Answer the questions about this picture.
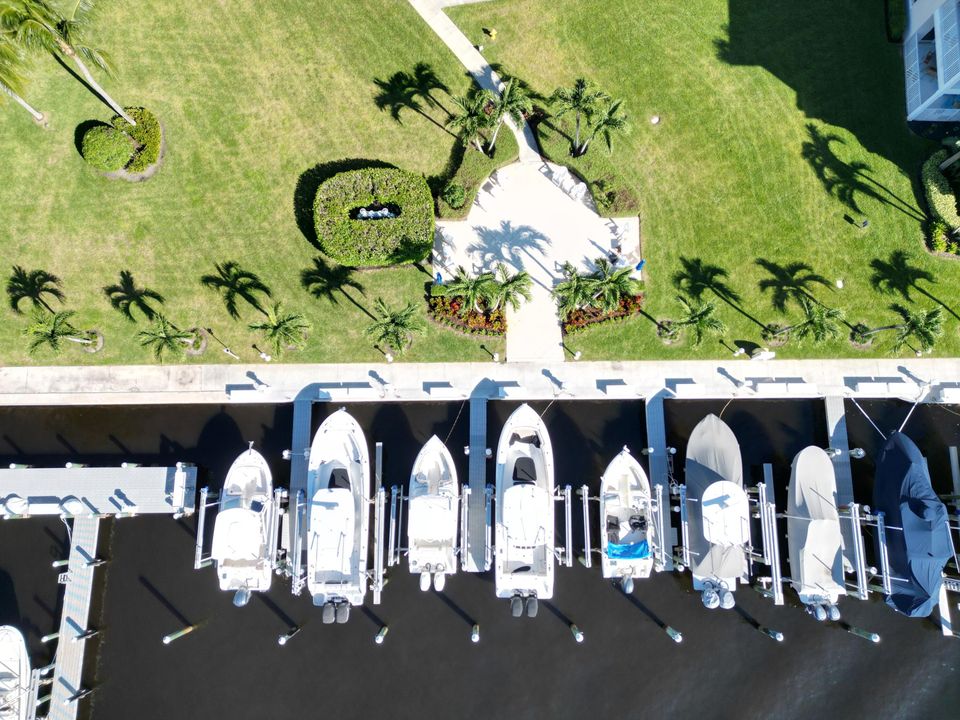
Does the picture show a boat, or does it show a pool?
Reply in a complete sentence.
Visible in the photo is a boat.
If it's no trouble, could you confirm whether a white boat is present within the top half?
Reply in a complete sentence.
No, I see no white boat within the top half.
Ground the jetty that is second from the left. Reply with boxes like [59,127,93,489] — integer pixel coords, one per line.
[287,400,312,578]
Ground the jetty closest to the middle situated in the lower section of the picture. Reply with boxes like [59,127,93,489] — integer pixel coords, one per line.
[468,398,488,573]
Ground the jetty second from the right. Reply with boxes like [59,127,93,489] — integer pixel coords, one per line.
[645,398,680,572]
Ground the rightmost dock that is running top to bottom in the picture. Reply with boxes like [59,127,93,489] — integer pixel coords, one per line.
[824,397,861,594]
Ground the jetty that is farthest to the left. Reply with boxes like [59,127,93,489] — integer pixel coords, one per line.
[0,467,198,516]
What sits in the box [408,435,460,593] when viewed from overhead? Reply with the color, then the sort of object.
white boat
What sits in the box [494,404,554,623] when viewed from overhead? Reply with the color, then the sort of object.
white boat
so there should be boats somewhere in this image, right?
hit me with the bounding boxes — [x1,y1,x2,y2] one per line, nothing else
[494,404,554,623]
[0,626,35,720]
[408,435,460,593]
[781,445,848,623]
[308,402,369,626]
[599,442,653,597]
[684,413,754,608]
[218,441,277,607]
[867,432,960,622]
